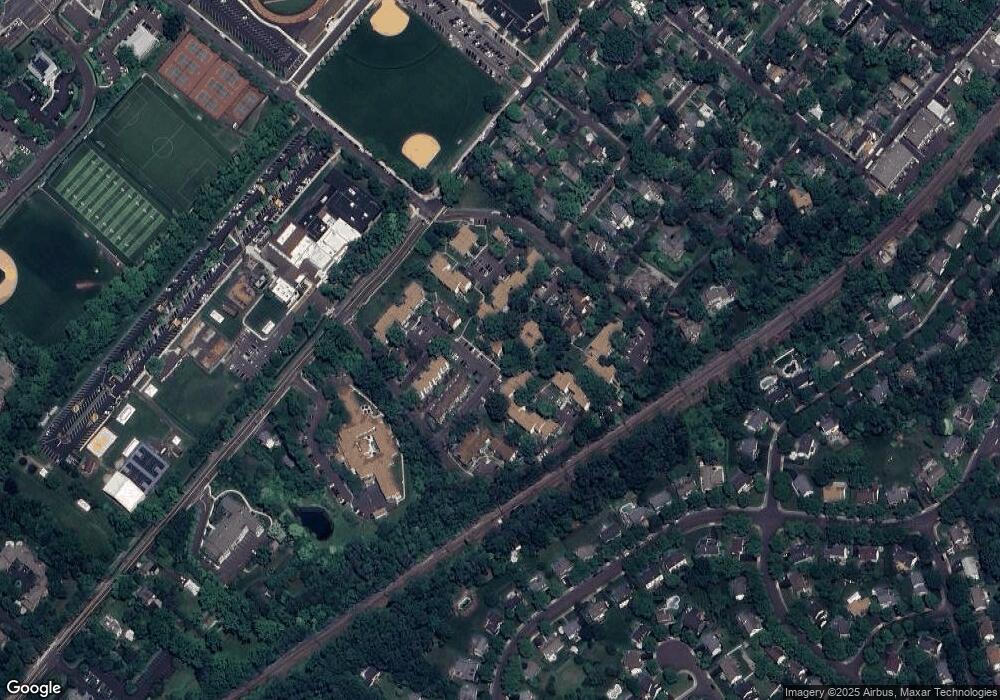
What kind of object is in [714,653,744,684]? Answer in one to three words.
house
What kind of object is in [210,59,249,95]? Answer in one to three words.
tennis court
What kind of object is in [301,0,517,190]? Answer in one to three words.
sports field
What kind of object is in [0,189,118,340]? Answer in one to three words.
baseball field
